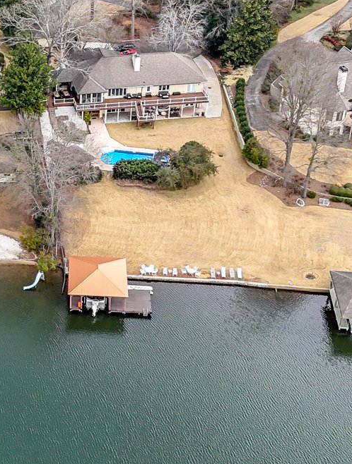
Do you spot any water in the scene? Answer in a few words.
Yes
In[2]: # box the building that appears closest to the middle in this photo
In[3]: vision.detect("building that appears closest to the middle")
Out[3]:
[66,256,153,321]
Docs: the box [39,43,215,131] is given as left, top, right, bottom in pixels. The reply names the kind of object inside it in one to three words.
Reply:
house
